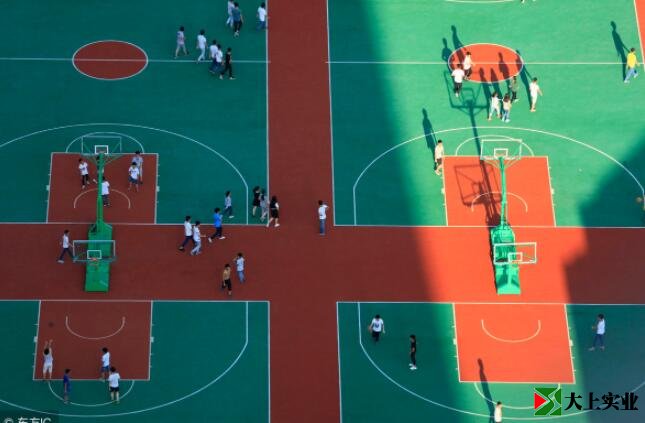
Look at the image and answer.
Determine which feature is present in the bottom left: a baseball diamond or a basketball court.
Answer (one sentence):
The feature located in the bottom left is a basketball court.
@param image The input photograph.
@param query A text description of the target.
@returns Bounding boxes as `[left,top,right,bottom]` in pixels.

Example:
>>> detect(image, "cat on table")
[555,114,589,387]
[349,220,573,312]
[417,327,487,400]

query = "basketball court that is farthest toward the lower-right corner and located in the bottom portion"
[337,302,645,423]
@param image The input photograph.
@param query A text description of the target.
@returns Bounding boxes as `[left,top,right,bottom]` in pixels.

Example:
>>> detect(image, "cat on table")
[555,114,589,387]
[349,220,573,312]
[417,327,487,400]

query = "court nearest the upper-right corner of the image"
[327,0,645,227]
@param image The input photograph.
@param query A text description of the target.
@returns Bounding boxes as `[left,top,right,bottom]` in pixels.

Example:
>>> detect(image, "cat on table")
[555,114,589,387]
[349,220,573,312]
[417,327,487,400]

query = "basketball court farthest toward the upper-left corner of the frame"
[0,0,270,225]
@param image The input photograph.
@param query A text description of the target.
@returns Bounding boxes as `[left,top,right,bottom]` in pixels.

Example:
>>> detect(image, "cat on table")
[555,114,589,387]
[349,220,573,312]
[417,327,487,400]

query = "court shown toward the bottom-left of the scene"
[0,300,270,423]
